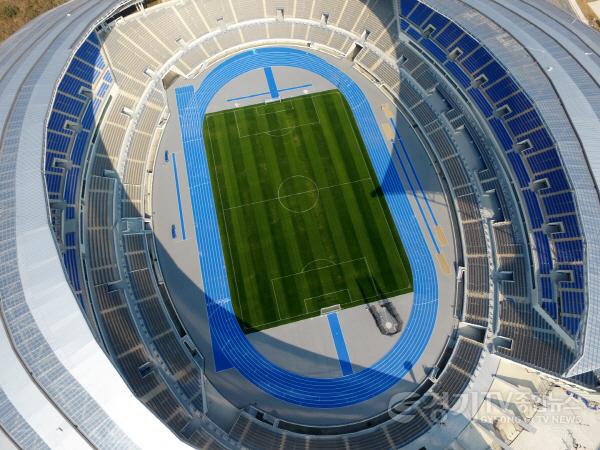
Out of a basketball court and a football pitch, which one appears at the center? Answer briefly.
football pitch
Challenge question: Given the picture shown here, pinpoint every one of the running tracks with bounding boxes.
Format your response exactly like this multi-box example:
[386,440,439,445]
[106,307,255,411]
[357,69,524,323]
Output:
[176,47,437,410]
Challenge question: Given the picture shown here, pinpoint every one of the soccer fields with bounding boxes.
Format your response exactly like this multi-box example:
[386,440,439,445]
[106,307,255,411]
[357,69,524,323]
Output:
[204,90,412,336]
